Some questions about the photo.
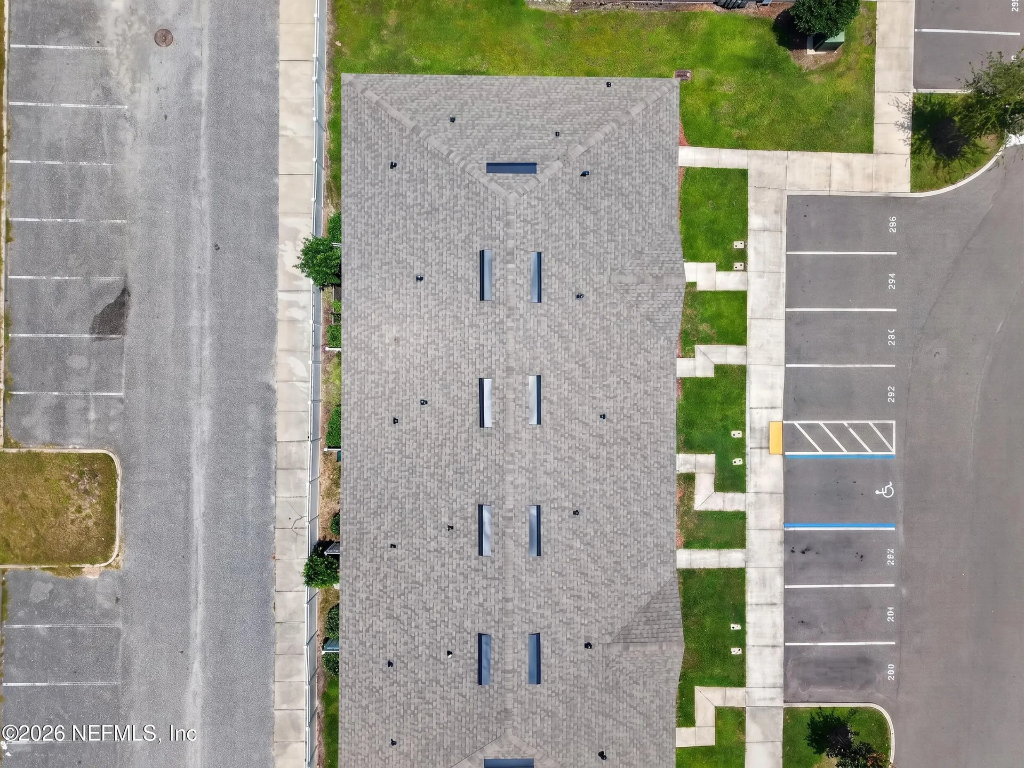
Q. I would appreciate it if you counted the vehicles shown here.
0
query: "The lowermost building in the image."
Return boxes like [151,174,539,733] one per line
[338,73,685,768]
